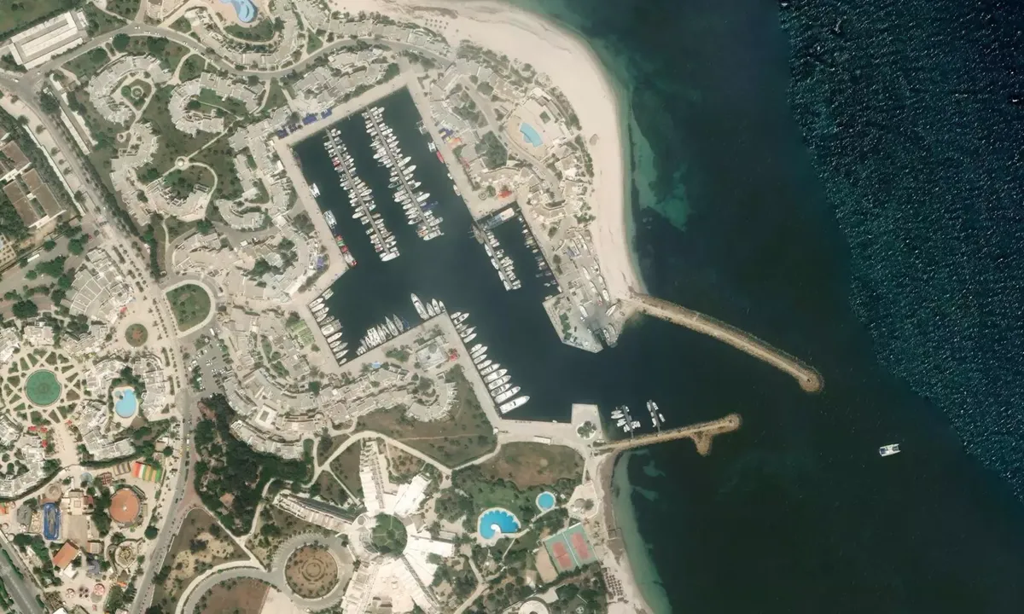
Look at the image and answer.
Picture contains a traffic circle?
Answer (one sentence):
Yes, there's a traffic circle down there.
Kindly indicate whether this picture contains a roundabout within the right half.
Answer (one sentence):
No, no roundabout can be made out within the right half.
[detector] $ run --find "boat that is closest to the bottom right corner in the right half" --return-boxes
[878,443,900,457]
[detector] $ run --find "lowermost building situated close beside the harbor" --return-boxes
[273,441,455,614]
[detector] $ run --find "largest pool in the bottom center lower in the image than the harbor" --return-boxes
[477,508,521,541]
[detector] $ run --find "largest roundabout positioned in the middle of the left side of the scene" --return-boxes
[167,283,212,338]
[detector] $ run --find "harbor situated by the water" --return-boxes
[283,74,602,460]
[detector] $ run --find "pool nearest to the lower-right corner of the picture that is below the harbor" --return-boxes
[536,492,556,512]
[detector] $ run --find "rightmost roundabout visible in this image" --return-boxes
[273,531,352,609]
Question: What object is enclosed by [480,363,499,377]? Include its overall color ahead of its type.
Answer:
white boat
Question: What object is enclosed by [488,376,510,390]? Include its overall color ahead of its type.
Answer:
white boat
